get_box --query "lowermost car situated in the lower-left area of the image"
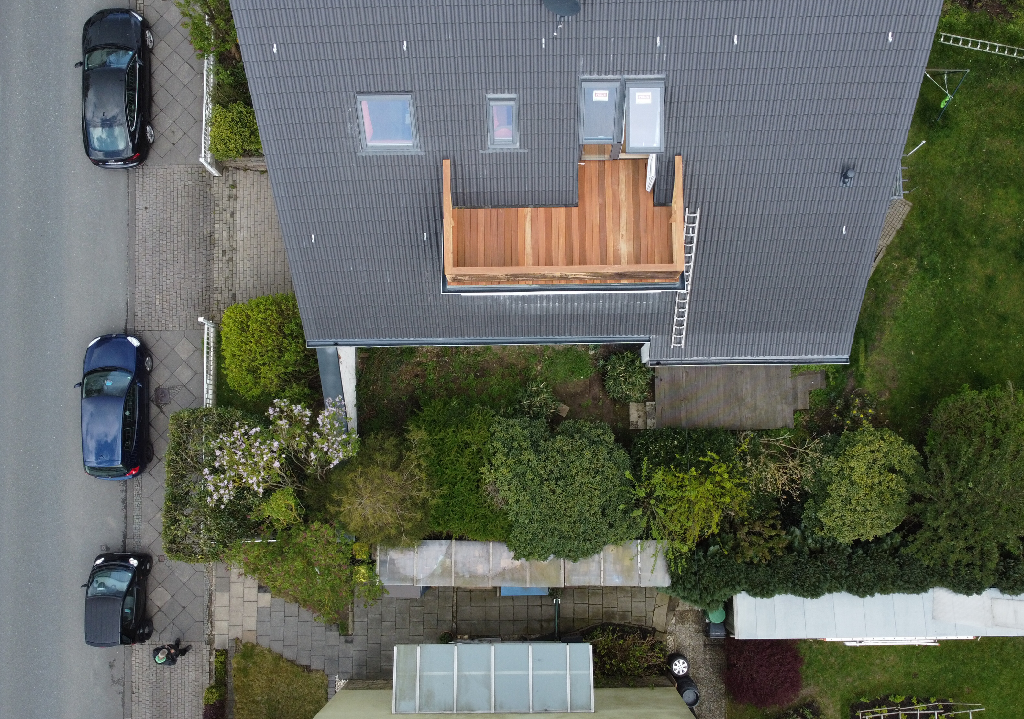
[77,553,153,650]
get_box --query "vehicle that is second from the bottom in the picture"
[73,332,155,480]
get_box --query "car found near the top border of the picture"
[72,8,156,173]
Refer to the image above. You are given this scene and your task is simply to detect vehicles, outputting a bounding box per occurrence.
[77,553,153,650]
[72,8,156,173]
[73,332,155,480]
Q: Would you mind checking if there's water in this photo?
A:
No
